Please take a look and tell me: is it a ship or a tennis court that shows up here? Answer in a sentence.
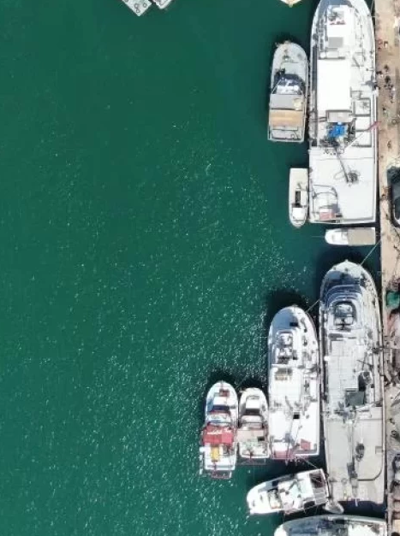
This aerial view contains a ship.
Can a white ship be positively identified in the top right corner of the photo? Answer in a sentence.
Yes, a white ship shows up in the top right corner of the photo.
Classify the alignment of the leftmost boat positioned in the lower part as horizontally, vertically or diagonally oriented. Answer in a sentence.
In this picture, the leftmost boat positioned in the lower part lies vertically.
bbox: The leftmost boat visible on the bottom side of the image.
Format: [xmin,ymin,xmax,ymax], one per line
[200,380,237,478]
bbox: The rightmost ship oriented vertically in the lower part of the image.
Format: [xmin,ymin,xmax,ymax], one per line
[317,262,388,504]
